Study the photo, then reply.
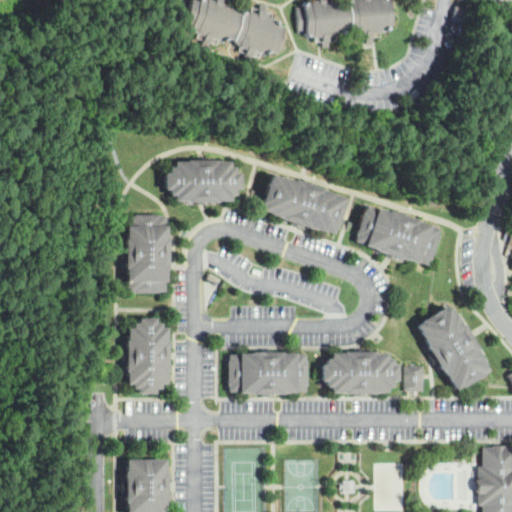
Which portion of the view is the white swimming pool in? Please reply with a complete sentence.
You can find the white swimming pool in the bottom right area of the picture.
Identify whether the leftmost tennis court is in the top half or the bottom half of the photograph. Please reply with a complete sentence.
The leftmost tennis court is in the bottom half of the image.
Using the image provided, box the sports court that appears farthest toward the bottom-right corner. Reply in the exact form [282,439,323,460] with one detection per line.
[373,463,404,512]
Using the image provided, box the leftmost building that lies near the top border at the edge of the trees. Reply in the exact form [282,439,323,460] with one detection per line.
[191,0,286,59]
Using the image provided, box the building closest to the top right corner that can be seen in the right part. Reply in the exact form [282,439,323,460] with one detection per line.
[294,0,396,49]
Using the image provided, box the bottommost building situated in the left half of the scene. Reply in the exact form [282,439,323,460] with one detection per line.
[128,459,172,512]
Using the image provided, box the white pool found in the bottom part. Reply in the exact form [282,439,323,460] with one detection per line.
[418,456,478,512]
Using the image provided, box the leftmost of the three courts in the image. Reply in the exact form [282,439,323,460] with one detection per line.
[224,448,262,512]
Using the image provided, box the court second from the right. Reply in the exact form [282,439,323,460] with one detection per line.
[284,459,319,512]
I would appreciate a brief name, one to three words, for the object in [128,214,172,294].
building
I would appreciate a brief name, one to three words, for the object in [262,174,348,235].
building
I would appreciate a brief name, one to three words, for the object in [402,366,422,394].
house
